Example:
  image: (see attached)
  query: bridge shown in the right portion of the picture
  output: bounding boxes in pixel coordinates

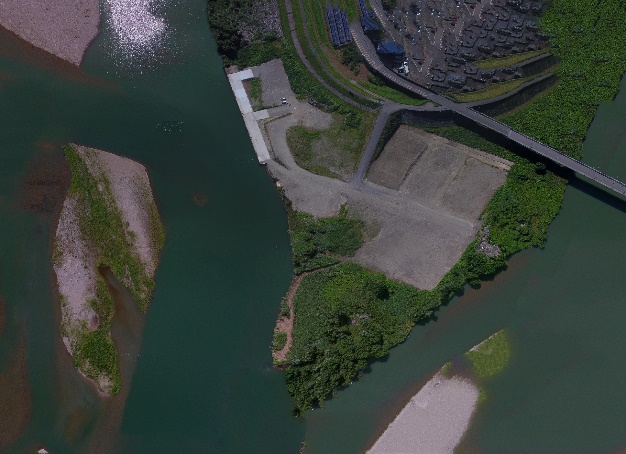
[444,101,626,196]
